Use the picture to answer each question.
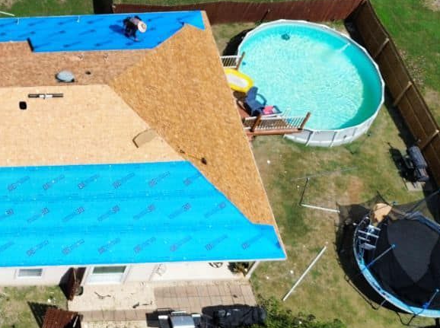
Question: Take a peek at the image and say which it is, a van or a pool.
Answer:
pool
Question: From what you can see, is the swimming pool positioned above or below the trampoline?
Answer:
above it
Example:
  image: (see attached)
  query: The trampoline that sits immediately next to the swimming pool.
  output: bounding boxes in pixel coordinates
[307,190,440,328]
